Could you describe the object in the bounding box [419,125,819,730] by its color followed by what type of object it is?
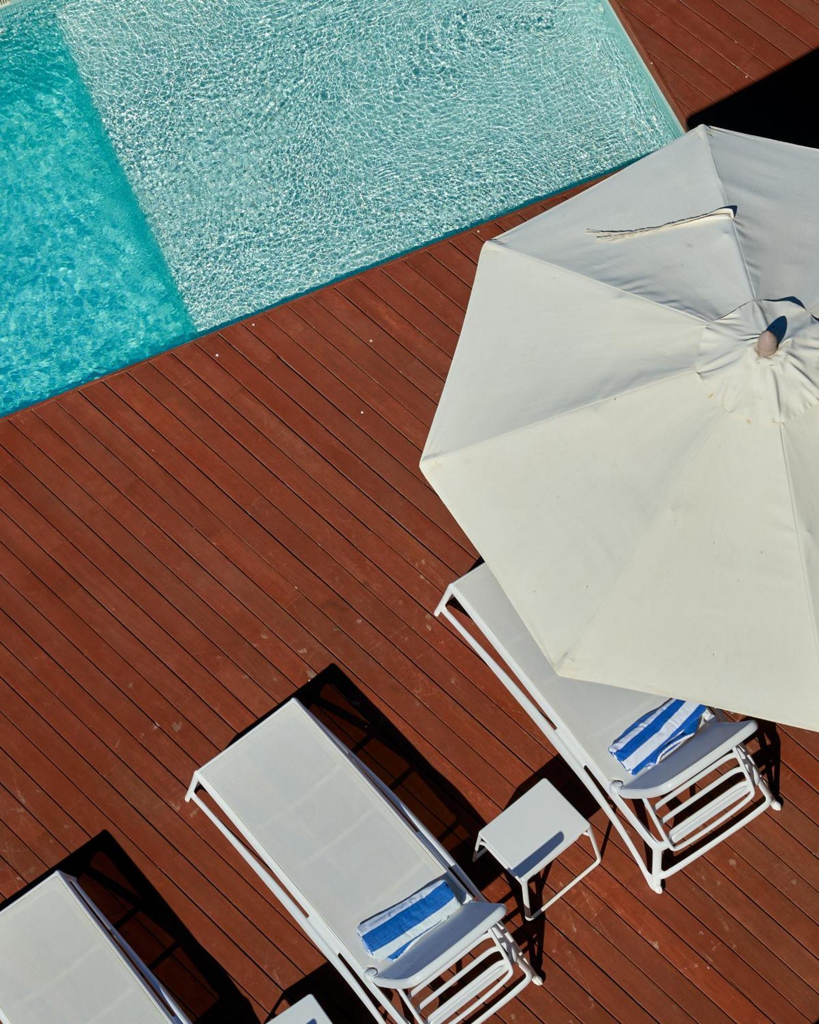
white umbrella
